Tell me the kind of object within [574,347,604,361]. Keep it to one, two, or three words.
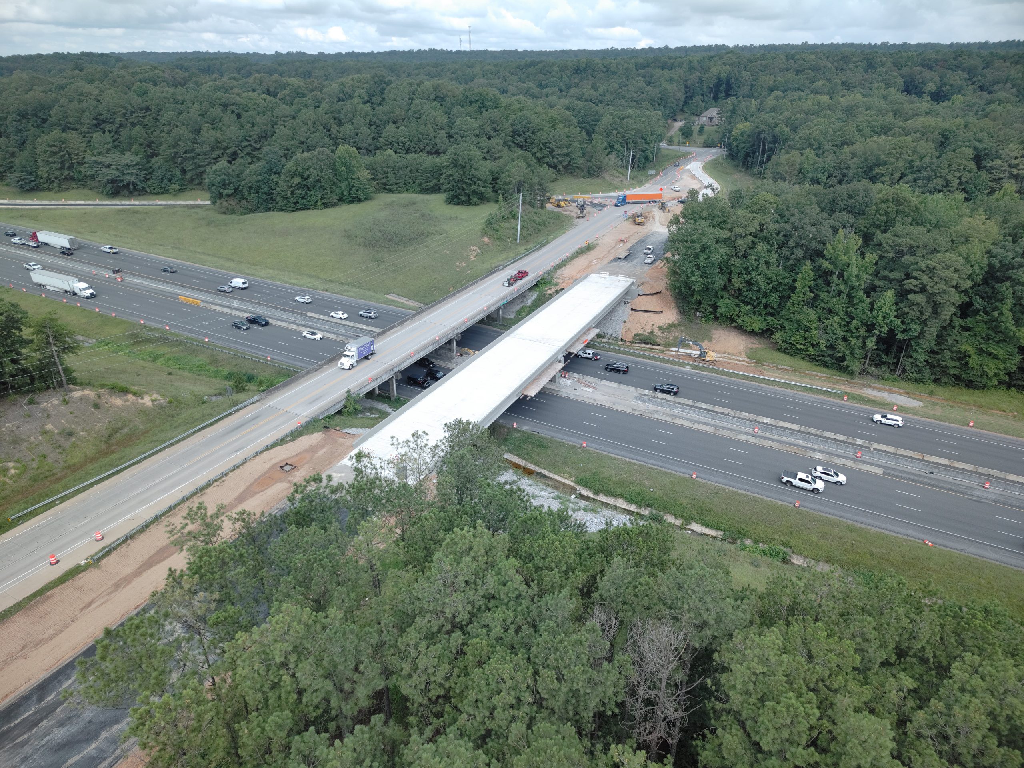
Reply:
vehicle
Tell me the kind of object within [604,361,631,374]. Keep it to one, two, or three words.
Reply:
vehicle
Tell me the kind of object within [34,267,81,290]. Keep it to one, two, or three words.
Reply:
trailer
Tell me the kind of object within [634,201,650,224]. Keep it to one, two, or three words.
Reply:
work vehicle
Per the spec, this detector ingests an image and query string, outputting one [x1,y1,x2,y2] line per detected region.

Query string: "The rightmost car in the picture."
[873,413,905,428]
